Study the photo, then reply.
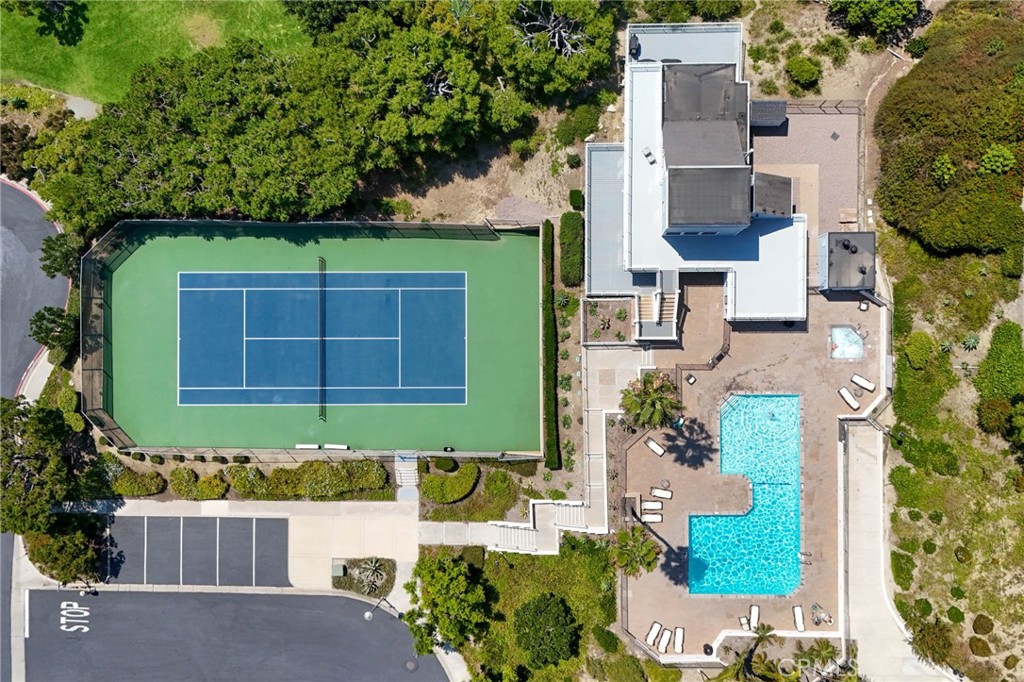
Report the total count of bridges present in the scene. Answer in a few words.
zero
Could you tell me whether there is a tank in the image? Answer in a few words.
No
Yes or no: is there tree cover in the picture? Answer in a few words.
Yes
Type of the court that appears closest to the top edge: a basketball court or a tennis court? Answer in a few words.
tennis court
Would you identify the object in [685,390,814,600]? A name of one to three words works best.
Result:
swimming pool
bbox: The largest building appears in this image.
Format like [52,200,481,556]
[584,20,812,340]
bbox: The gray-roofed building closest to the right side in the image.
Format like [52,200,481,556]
[816,232,877,290]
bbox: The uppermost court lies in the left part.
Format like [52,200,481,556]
[103,220,543,459]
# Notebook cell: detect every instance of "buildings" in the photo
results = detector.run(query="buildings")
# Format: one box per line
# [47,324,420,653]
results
[816,232,877,290]
[584,20,812,340]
